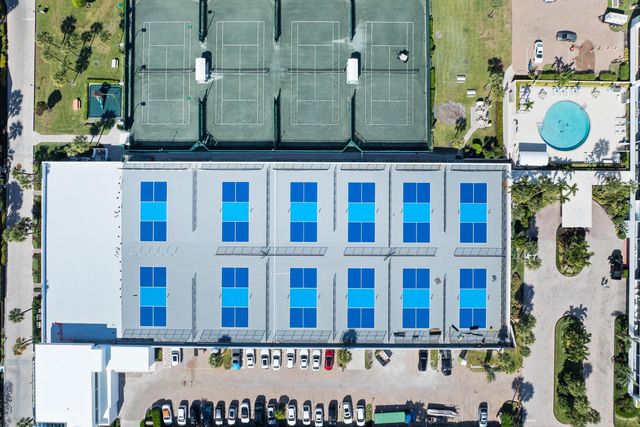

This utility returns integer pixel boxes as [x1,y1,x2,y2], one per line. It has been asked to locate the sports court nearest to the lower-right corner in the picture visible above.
[458,268,491,328]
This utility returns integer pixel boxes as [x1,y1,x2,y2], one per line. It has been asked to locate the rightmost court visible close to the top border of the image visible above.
[352,0,428,151]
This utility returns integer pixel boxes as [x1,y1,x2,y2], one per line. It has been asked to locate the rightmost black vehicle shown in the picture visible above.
[609,254,622,278]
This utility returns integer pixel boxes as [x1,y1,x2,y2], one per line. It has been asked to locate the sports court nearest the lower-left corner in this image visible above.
[136,266,169,326]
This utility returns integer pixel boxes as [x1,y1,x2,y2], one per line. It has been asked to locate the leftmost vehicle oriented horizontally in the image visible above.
[376,409,414,426]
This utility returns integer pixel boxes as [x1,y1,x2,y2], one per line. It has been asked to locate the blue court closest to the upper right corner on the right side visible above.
[458,183,491,243]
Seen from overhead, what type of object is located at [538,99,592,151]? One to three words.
swimming pool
